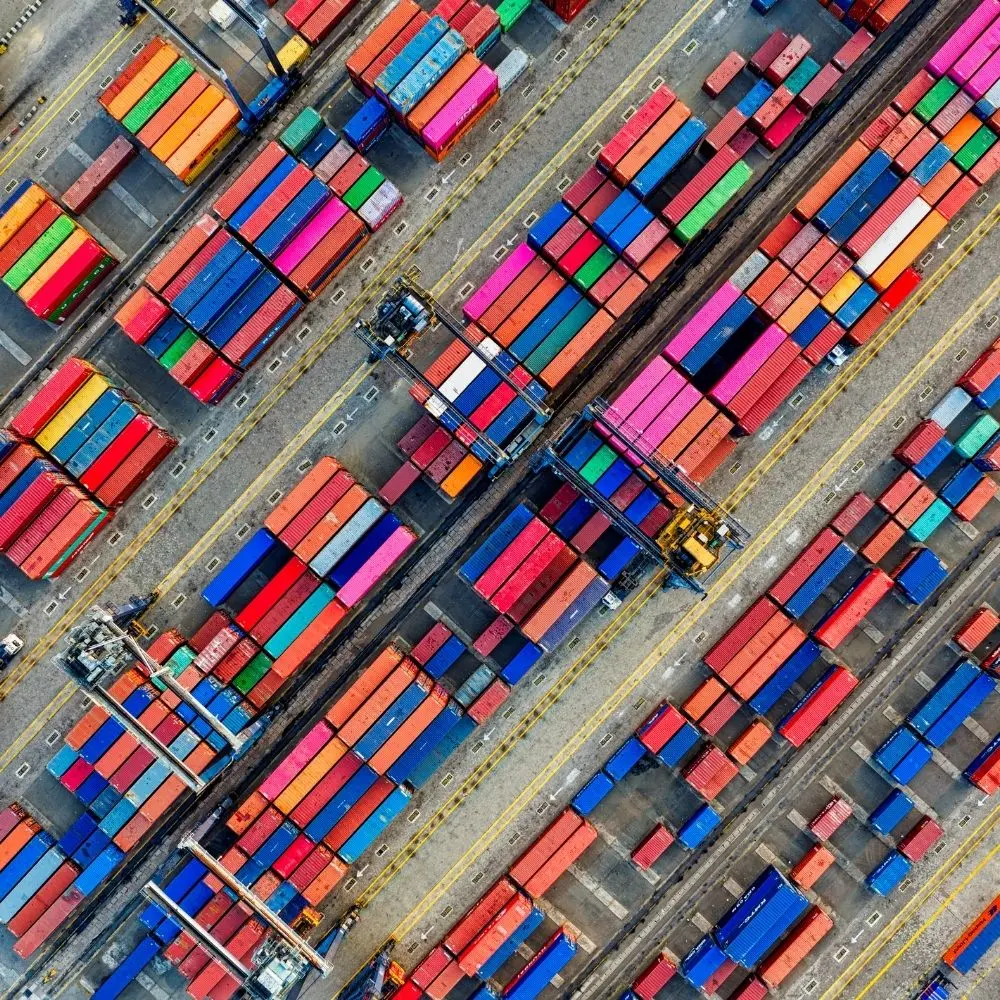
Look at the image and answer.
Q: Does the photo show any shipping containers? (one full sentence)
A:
Yes, this view includes a shipping container.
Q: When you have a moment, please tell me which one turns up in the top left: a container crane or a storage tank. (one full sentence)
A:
Looking in the top left, you will find a container crane.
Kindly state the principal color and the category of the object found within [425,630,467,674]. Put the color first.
blue shipping container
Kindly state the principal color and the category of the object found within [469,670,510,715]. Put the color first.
red shipping container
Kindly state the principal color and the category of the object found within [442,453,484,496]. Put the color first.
orange shipping container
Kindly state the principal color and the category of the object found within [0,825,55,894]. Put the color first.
blue shipping container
